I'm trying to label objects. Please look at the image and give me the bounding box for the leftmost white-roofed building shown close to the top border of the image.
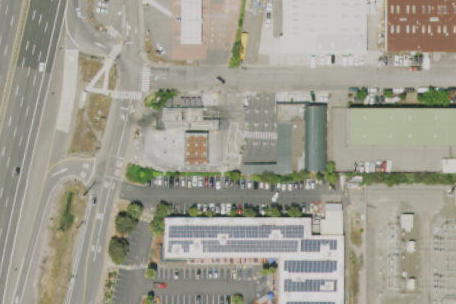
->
[280,0,368,53]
